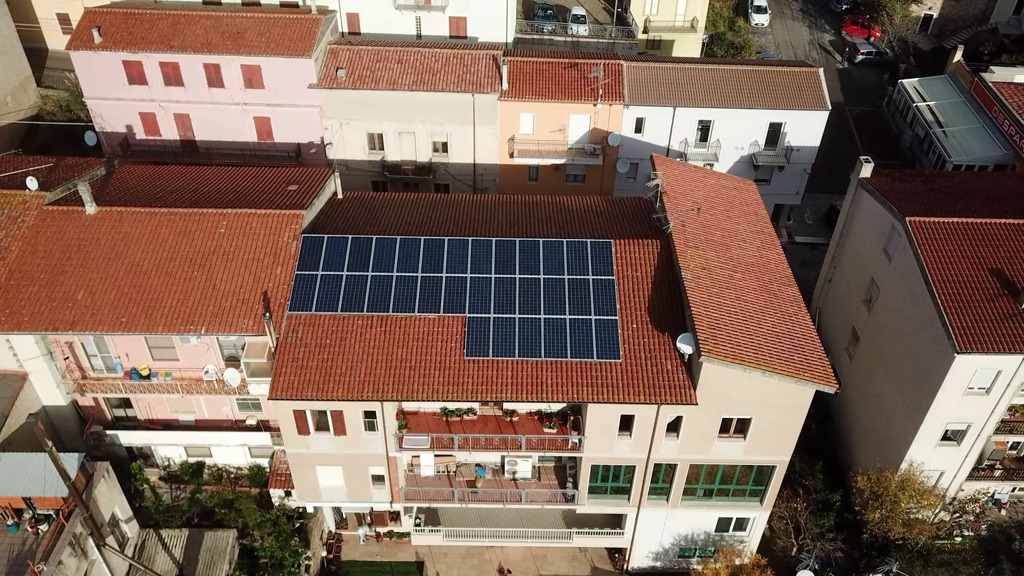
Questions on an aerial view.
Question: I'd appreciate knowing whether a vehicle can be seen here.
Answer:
Yes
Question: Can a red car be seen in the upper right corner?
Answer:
Yes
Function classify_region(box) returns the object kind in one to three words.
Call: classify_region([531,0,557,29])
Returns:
car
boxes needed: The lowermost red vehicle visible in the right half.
[842,16,881,39]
